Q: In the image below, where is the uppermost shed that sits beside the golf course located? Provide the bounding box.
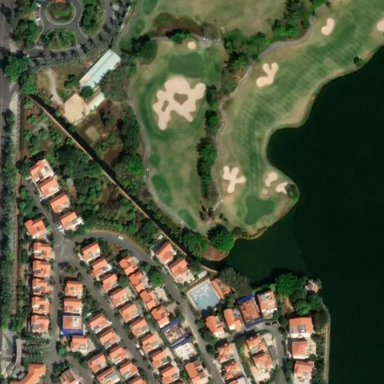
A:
[81,51,120,89]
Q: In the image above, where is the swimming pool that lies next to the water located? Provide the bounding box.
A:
[188,278,222,315]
